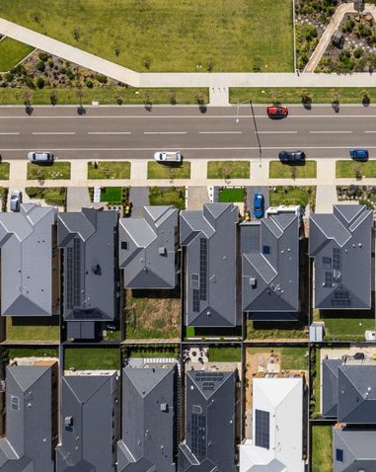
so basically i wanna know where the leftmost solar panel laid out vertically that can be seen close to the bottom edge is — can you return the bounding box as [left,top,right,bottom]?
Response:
[191,414,206,460]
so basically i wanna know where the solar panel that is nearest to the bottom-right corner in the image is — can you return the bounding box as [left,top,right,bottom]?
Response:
[256,410,269,448]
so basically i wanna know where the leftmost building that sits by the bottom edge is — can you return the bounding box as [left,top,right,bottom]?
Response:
[0,363,57,472]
